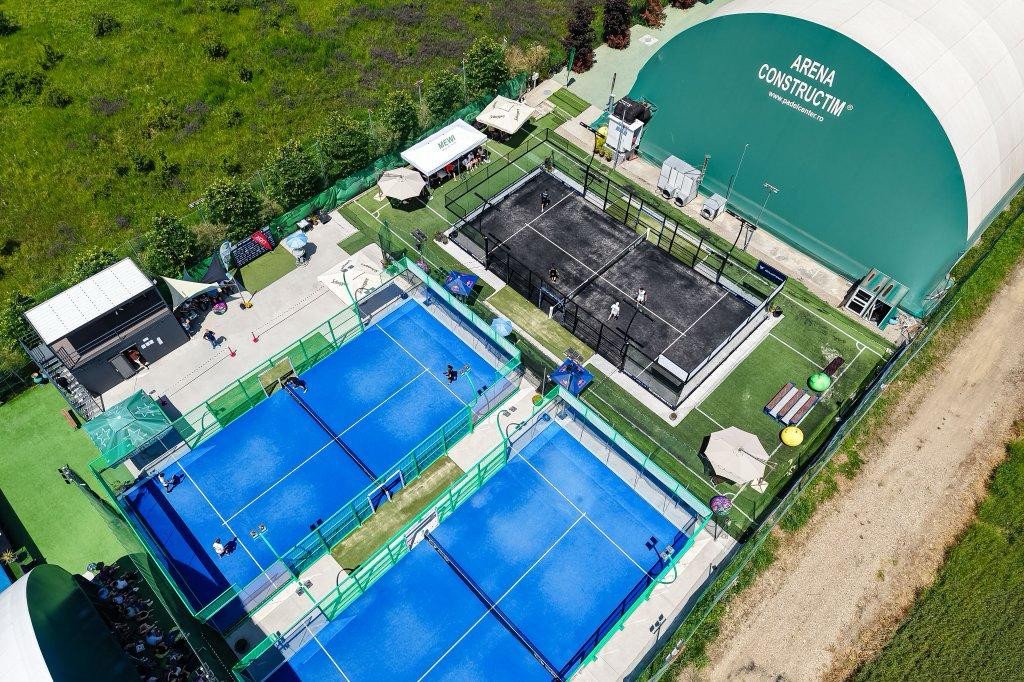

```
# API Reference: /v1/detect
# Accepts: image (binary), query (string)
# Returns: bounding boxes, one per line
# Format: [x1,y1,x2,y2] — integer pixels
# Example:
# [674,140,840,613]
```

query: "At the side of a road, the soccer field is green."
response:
[335,89,912,548]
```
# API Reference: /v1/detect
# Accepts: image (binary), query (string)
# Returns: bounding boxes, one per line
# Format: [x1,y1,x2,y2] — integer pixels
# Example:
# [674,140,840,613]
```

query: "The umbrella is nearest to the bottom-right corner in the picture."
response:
[703,423,773,494]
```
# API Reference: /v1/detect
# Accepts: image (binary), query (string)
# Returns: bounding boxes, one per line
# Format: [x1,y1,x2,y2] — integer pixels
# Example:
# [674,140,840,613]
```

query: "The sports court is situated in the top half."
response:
[442,129,791,411]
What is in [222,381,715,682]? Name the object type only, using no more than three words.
sports court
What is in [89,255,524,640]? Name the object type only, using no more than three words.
sports court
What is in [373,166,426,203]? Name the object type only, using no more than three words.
umbrella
